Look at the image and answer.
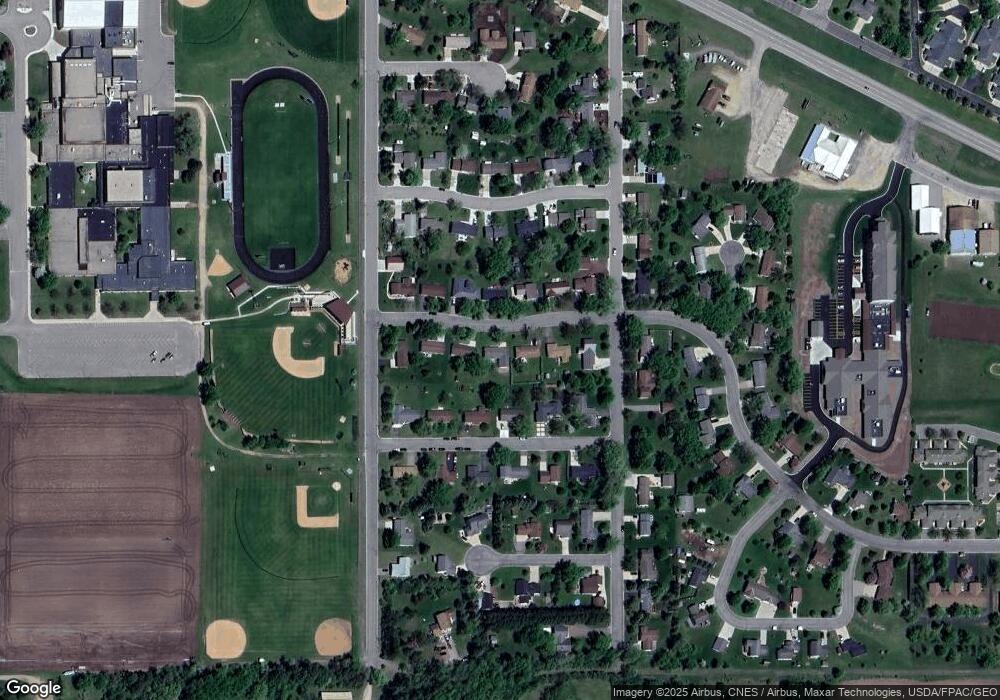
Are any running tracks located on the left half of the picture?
Yes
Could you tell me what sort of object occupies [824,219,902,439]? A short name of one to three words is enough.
building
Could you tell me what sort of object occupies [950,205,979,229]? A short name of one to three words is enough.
shed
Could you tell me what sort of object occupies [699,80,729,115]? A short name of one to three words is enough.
barn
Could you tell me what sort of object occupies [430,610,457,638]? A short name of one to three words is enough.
house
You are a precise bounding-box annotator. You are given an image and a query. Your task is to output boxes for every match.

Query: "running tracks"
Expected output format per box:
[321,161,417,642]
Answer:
[230,65,331,284]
